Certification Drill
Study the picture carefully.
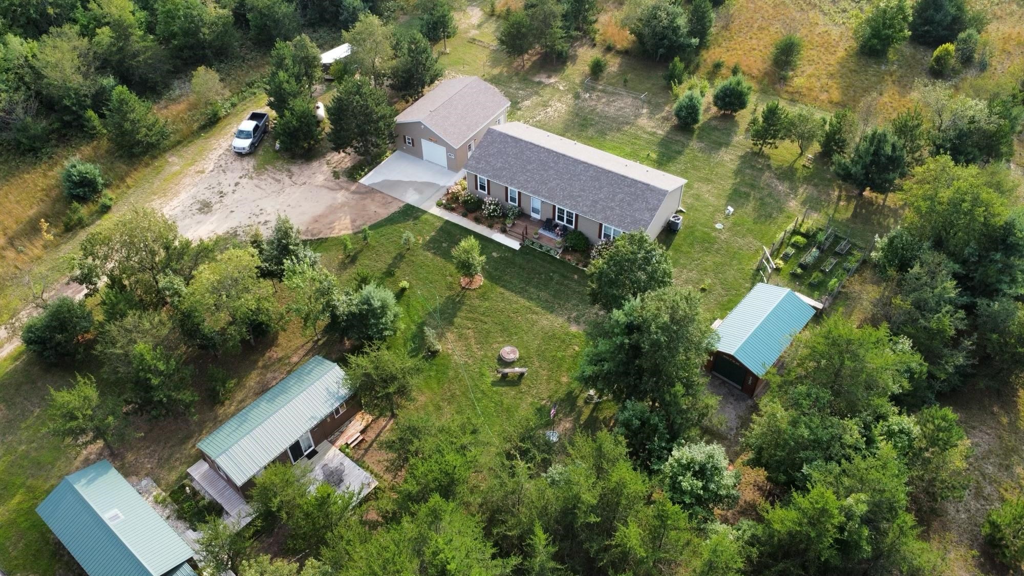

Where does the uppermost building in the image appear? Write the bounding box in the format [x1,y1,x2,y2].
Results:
[391,77,510,172]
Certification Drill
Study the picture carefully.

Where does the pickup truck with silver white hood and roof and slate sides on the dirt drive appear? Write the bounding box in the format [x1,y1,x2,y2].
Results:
[228,110,272,152]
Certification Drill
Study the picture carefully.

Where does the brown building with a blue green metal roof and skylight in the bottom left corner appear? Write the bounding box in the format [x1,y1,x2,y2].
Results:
[34,458,207,576]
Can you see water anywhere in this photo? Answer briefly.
No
